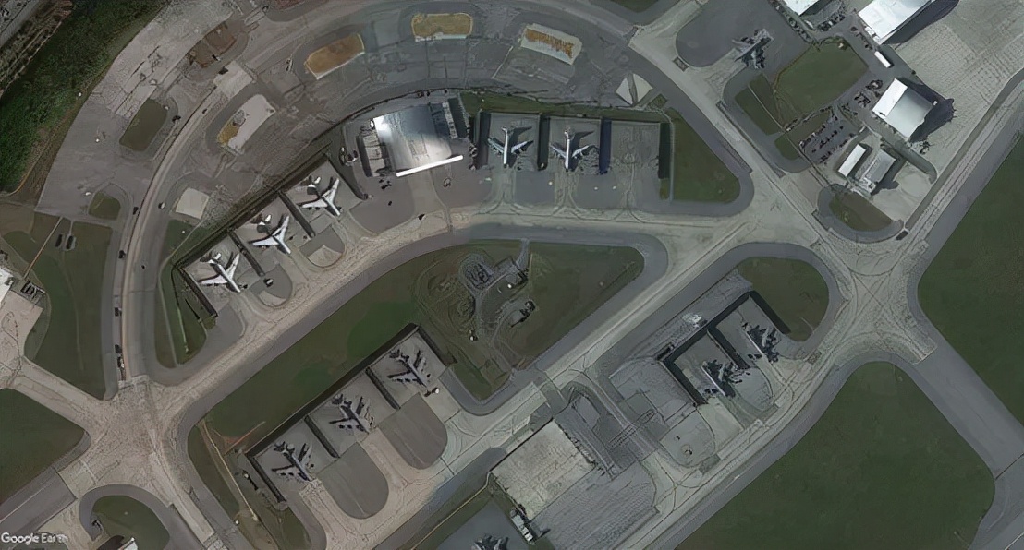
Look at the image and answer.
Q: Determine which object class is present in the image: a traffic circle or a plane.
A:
plane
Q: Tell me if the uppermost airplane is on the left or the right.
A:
right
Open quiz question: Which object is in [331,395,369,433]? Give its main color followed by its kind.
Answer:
gray airplane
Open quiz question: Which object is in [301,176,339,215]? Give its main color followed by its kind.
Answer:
white airplane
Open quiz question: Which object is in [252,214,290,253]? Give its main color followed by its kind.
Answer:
white airplane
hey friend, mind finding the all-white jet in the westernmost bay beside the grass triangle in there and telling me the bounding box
[201,253,239,292]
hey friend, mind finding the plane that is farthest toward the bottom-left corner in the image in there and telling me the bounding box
[273,444,310,482]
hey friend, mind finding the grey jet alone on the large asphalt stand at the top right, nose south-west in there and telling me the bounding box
[735,24,772,60]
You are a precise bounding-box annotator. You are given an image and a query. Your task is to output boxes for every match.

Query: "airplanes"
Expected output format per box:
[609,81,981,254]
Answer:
[301,176,339,215]
[692,359,727,396]
[273,444,310,482]
[201,253,239,292]
[252,214,290,253]
[548,131,587,170]
[389,349,427,387]
[487,128,525,167]
[733,321,767,359]
[331,395,369,433]
[735,24,772,60]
